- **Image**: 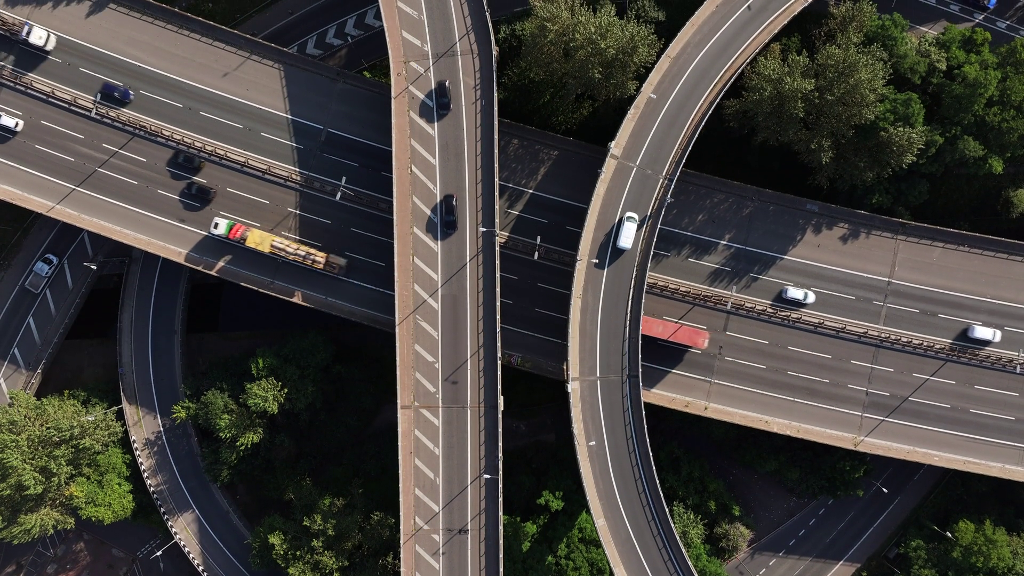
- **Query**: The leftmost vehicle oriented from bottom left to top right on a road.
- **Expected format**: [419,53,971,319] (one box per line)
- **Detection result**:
[25,254,58,295]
